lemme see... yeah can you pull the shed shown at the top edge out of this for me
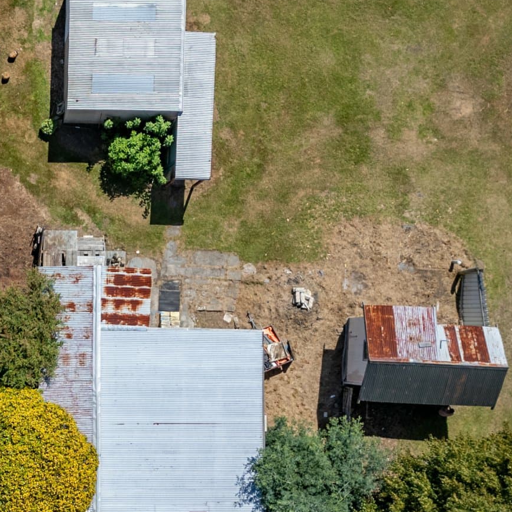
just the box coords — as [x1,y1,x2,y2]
[64,0,217,183]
